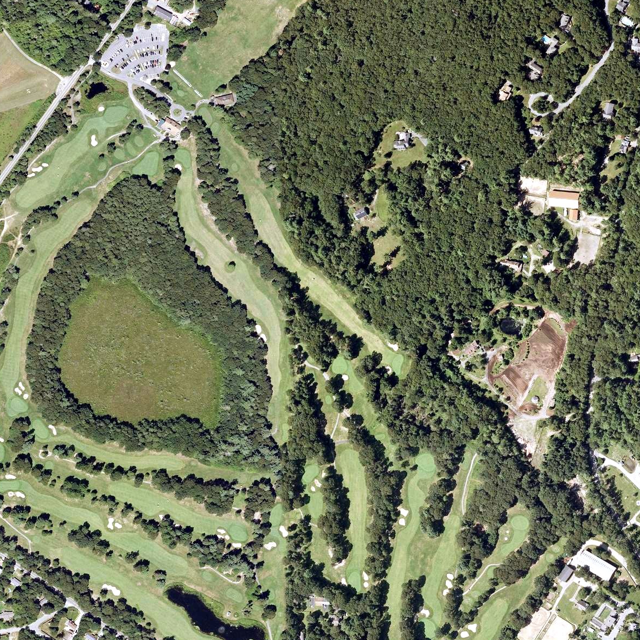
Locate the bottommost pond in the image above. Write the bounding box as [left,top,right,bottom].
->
[167,586,266,640]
